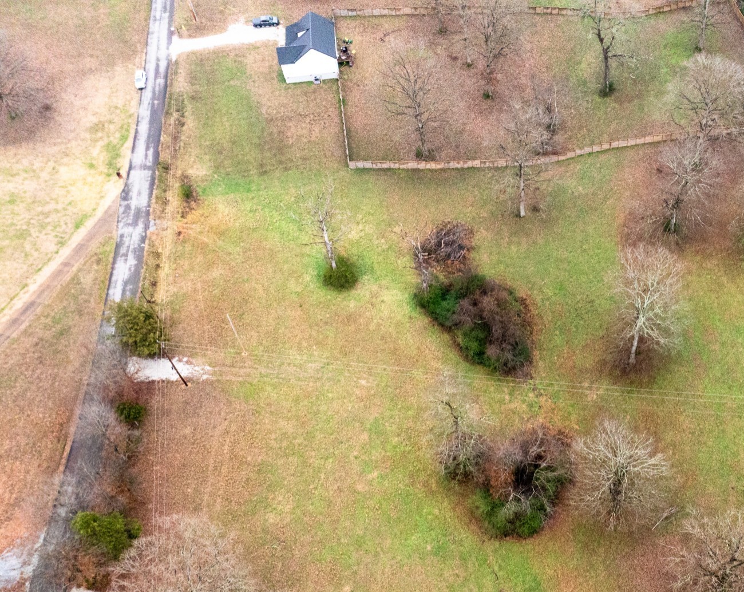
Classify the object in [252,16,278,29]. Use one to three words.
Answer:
vehicle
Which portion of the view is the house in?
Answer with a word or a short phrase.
top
